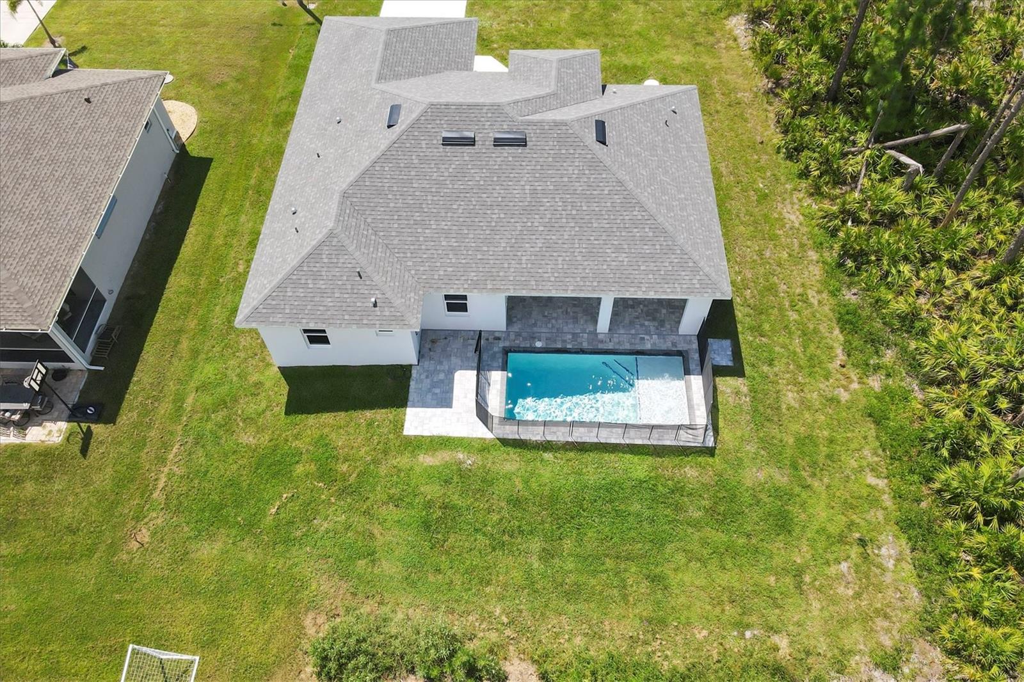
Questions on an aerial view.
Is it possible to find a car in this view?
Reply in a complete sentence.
No, the picture doesn't show any car.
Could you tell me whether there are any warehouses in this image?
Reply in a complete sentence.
No, no warehouse is visible in the scene.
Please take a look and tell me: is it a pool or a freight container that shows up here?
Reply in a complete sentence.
There is a pool in the scene.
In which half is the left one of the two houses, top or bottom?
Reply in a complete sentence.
The left one of the two houses is in the top half of the image.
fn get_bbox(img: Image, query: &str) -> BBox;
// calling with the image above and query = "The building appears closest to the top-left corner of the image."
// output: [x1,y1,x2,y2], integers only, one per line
[0,47,178,372]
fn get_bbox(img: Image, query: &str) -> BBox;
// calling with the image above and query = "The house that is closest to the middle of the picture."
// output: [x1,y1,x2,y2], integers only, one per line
[237,16,731,368]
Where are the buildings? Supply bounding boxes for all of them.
[237,16,731,368]
[0,47,178,372]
